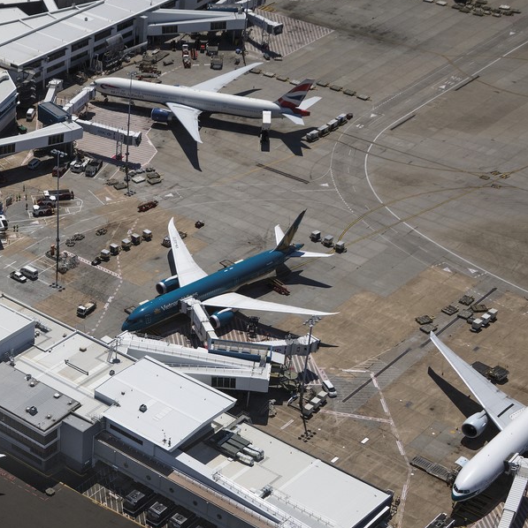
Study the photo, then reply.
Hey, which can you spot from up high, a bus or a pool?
bus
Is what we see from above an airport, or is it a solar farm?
airport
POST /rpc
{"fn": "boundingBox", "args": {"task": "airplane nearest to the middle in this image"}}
[120,209,336,333]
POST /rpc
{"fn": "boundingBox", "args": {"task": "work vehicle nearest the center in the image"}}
[268,273,290,293]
